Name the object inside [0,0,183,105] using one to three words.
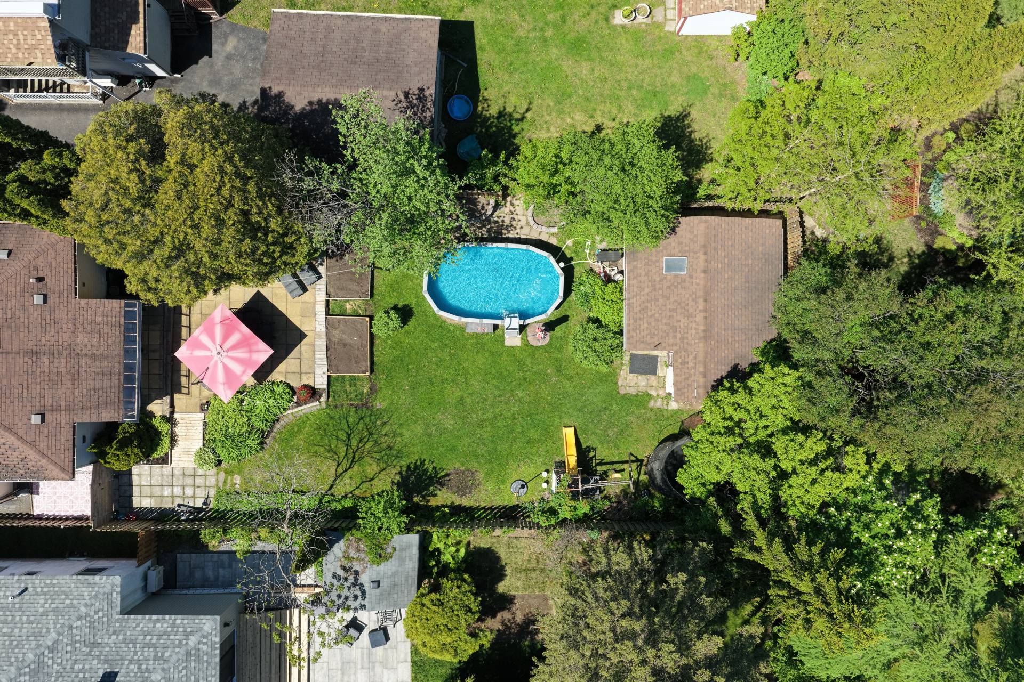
house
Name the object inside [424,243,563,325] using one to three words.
swimming pool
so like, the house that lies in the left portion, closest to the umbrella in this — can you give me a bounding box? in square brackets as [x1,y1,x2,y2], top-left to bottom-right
[0,225,159,484]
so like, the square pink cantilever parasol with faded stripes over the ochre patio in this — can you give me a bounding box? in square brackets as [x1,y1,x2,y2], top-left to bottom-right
[169,304,273,402]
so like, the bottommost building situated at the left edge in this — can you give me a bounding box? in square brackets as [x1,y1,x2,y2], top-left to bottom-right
[0,554,243,682]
